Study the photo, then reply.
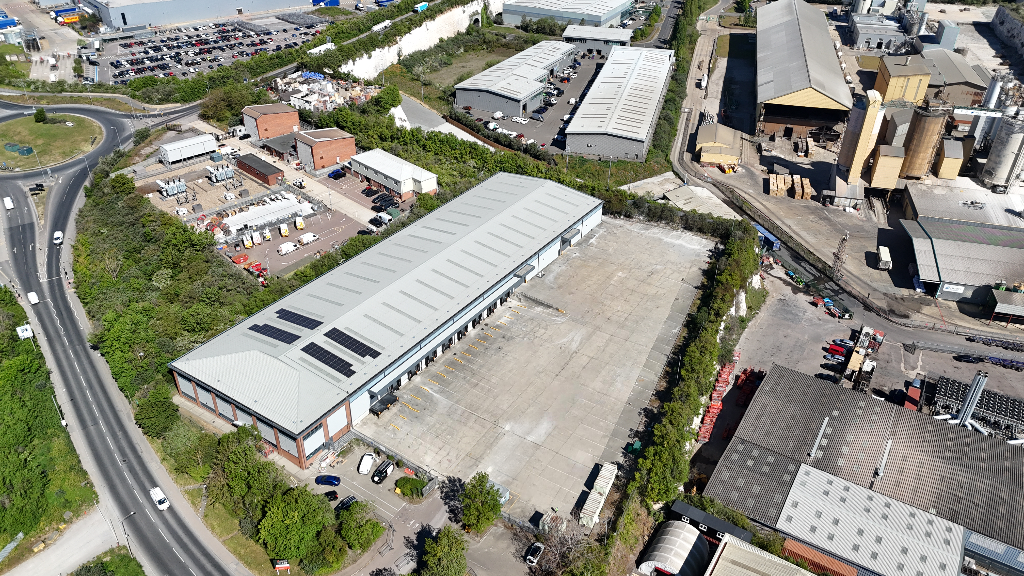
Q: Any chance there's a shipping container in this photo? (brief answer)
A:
Yes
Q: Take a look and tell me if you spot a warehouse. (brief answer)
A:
Yes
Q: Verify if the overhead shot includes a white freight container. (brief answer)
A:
Yes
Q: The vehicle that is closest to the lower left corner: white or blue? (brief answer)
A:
white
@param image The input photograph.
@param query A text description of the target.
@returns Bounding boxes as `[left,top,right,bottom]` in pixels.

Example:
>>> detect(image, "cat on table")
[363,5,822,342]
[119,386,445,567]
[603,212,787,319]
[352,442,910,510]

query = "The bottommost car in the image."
[526,543,543,565]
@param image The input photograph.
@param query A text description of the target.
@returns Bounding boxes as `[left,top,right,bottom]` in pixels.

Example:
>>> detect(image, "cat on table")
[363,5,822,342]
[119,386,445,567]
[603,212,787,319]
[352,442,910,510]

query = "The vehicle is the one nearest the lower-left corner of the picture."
[146,484,168,511]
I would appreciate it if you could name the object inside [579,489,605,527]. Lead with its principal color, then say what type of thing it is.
white shipping container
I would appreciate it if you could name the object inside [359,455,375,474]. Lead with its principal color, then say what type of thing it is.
white car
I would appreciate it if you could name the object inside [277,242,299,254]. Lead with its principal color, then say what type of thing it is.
white vehicle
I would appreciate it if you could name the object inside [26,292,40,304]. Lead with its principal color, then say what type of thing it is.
white vehicle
